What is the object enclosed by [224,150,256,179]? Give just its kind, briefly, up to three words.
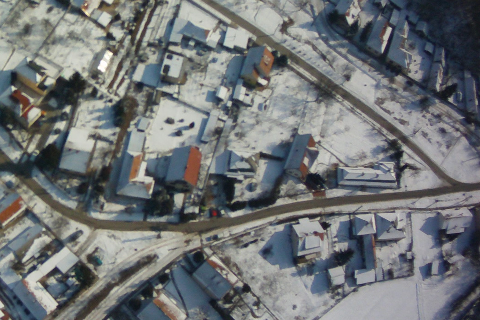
house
